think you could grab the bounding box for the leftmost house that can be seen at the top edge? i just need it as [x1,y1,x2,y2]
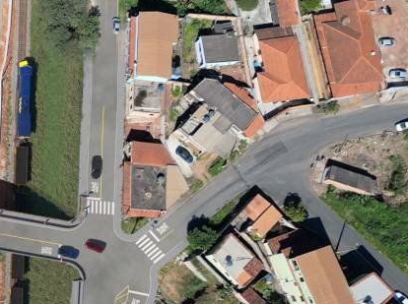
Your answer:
[126,13,179,81]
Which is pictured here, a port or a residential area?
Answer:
residential area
